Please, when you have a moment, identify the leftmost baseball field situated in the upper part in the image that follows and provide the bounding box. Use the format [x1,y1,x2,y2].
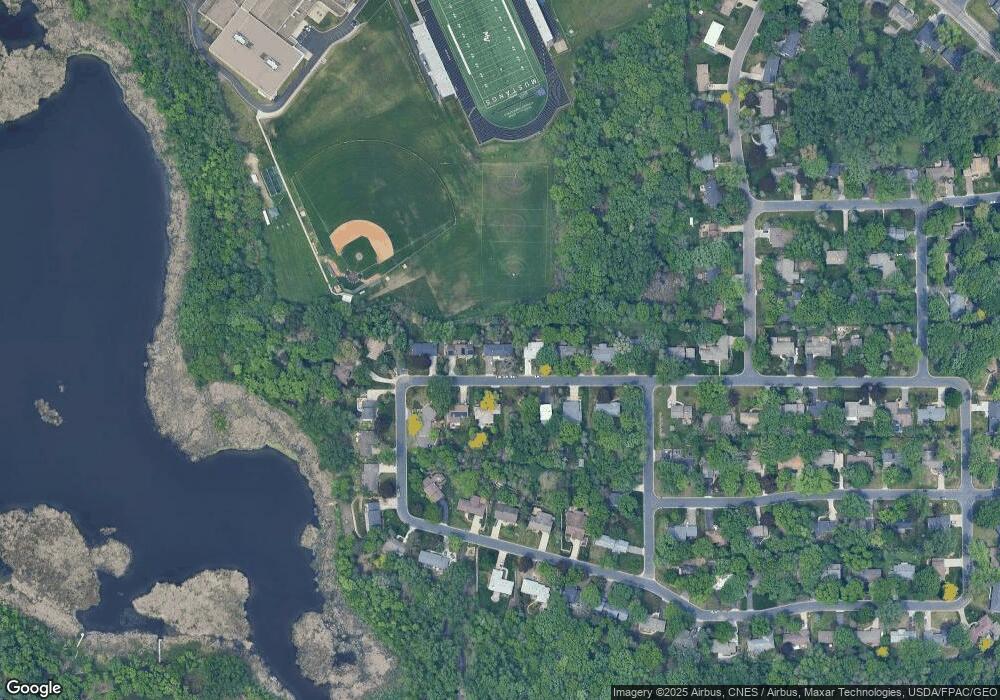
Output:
[292,141,456,296]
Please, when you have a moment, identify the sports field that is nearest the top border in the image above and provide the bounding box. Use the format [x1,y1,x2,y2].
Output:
[428,0,549,128]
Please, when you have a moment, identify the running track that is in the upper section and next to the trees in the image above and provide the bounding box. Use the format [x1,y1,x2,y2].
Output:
[411,0,571,145]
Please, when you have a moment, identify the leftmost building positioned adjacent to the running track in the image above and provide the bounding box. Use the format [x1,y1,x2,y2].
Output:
[198,0,347,100]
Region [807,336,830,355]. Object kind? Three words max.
house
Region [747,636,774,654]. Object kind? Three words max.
house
